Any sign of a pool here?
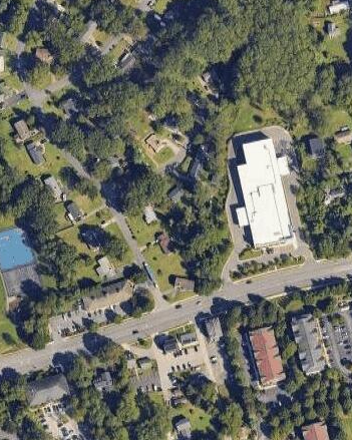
No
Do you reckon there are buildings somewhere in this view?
Yes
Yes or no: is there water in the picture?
No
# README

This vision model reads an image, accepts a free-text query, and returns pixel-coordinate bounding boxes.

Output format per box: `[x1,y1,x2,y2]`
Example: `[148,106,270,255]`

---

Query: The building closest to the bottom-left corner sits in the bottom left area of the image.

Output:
[25,374,69,407]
